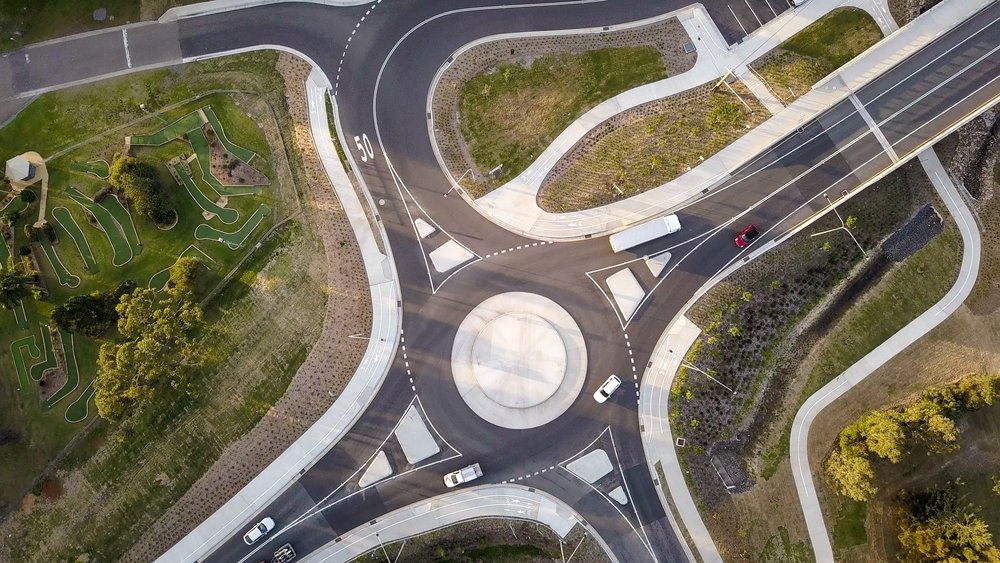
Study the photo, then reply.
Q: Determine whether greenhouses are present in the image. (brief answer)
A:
No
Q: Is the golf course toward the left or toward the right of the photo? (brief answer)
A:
left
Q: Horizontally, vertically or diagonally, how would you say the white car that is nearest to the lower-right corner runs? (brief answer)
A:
diagonally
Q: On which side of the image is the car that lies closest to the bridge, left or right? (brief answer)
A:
right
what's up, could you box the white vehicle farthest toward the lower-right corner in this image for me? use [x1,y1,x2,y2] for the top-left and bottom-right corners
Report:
[593,374,624,406]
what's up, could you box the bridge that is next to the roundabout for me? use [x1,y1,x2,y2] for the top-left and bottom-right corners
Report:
[751,0,1000,259]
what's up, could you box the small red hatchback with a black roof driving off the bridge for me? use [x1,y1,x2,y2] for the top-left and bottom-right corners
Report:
[734,221,764,248]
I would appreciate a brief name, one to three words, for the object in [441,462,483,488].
truck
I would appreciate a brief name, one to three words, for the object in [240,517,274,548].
car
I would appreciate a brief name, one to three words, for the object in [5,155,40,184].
gazebo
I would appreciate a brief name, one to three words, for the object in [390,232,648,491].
roundabout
